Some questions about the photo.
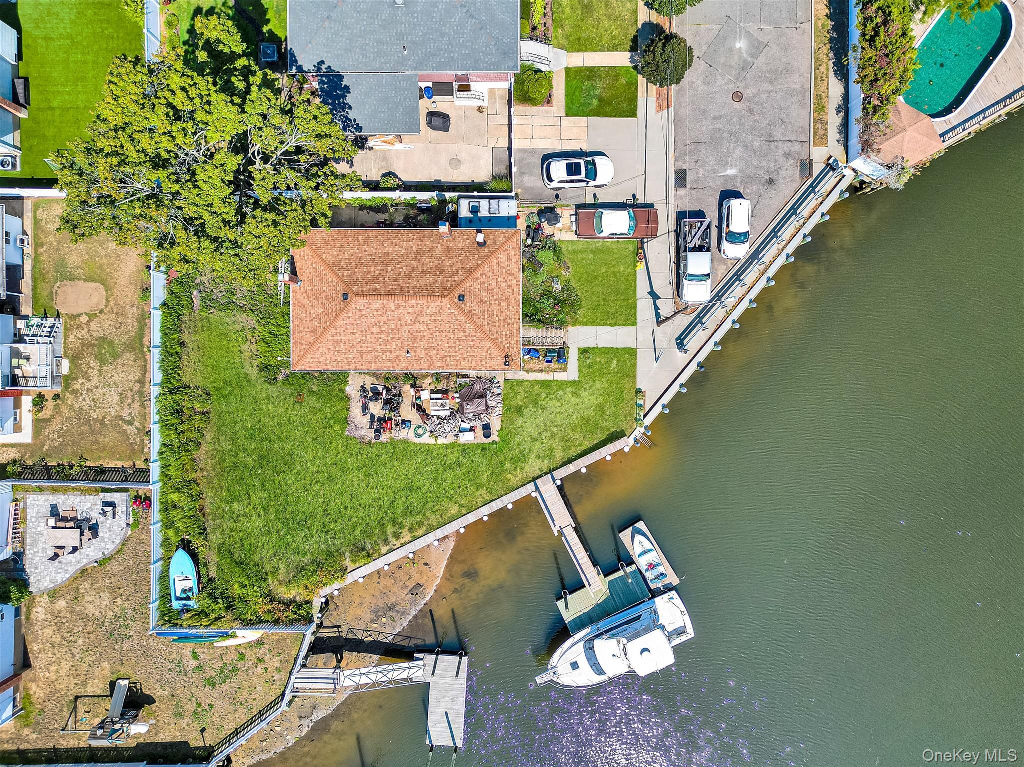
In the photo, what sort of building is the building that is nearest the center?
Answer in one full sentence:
From above, the building that is nearest the center can be identified as a house.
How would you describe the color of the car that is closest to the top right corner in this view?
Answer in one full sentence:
The car that is closest to the top right corner is white.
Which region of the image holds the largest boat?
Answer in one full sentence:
The largest boat appears toward the bottom of the photo.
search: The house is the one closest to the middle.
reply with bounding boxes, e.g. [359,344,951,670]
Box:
[280,223,522,371]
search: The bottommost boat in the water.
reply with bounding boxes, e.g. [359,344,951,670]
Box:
[534,589,691,690]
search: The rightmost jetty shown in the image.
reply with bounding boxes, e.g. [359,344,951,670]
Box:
[622,518,676,594]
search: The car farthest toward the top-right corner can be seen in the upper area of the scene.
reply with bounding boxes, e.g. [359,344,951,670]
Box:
[719,196,753,261]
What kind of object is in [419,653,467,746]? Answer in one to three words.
pier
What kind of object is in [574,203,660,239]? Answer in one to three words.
car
